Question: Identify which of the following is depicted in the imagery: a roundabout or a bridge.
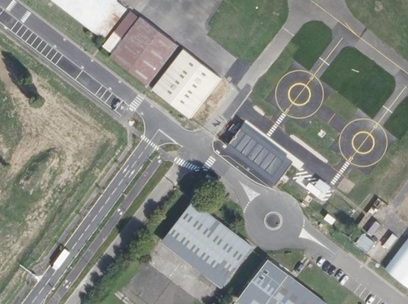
roundabout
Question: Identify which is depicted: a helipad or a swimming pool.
helipad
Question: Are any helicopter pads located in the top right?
Yes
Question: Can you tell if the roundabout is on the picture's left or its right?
right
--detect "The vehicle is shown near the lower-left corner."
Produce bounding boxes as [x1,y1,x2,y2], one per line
[51,250,69,271]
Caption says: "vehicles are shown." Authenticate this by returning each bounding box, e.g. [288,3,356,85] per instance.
[230,122,239,132]
[318,256,326,267]
[327,264,336,275]
[340,275,349,286]
[322,260,332,271]
[334,269,344,280]
[111,98,120,108]
[296,262,304,272]
[365,296,374,304]
[51,250,69,271]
